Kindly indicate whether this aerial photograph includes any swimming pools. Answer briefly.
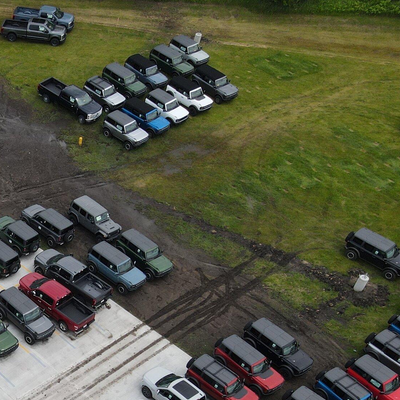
No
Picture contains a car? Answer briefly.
Yes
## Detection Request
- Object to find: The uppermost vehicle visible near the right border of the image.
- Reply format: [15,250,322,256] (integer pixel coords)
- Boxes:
[342,228,400,281]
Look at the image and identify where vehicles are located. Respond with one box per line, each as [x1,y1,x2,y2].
[144,89,188,128]
[148,46,194,81]
[0,318,19,358]
[343,354,400,400]
[101,64,146,103]
[101,112,148,153]
[31,245,113,311]
[120,99,171,140]
[114,231,173,284]
[18,206,75,248]
[0,217,41,259]
[185,353,259,400]
[16,271,95,335]
[0,239,22,279]
[311,366,378,400]
[167,36,209,71]
[241,318,313,379]
[2,19,67,49]
[213,334,283,397]
[342,228,400,281]
[188,66,238,106]
[65,196,122,245]
[38,79,104,126]
[84,241,145,295]
[13,7,77,35]
[82,77,126,115]
[0,286,55,344]
[137,364,205,400]
[164,77,213,118]
[123,56,167,95]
